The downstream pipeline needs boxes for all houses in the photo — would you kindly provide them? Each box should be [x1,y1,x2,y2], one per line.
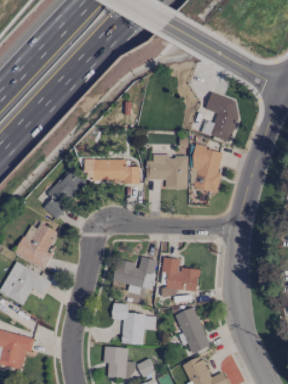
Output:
[182,356,230,384]
[197,92,244,142]
[112,259,156,295]
[16,221,62,274]
[43,174,86,221]
[159,258,200,296]
[83,158,142,185]
[110,304,156,346]
[0,332,34,368]
[0,262,49,306]
[146,156,188,190]
[190,144,221,194]
[104,348,135,380]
